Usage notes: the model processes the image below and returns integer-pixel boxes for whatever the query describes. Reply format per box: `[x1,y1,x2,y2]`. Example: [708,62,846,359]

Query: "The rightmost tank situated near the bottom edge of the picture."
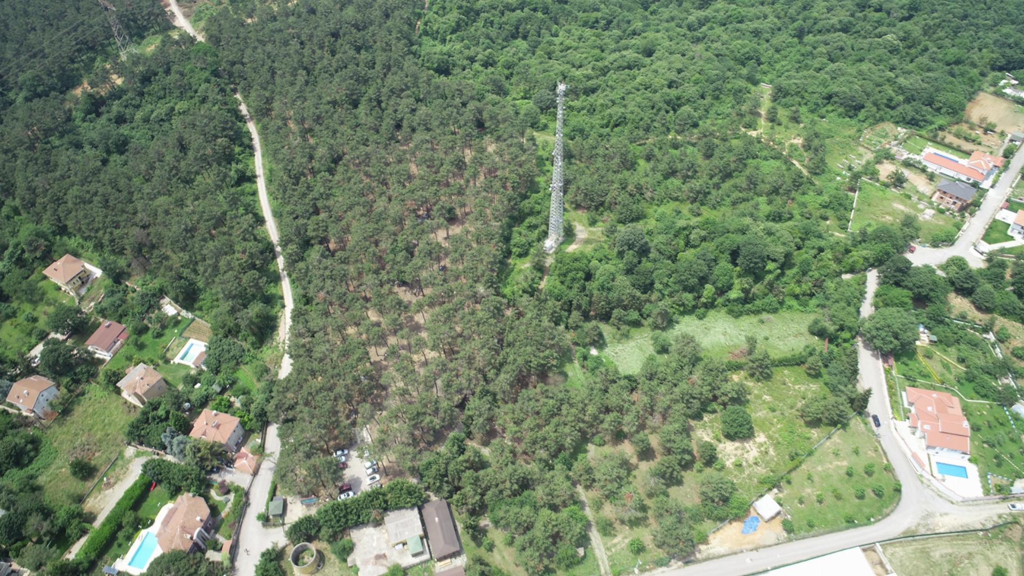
[289,541,322,575]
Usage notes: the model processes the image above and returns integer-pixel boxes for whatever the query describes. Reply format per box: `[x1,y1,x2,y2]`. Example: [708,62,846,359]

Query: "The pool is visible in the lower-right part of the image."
[933,459,971,480]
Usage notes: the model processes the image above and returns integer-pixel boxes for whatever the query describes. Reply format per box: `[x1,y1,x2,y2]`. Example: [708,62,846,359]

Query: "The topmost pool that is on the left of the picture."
[178,341,206,364]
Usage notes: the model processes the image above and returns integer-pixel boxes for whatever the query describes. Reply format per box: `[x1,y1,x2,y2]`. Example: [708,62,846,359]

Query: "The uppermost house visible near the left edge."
[42,256,93,294]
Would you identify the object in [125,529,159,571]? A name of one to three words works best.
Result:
swimming pool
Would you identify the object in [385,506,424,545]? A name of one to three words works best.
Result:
shed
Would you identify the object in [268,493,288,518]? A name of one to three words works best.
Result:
building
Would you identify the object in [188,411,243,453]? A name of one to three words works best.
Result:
house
